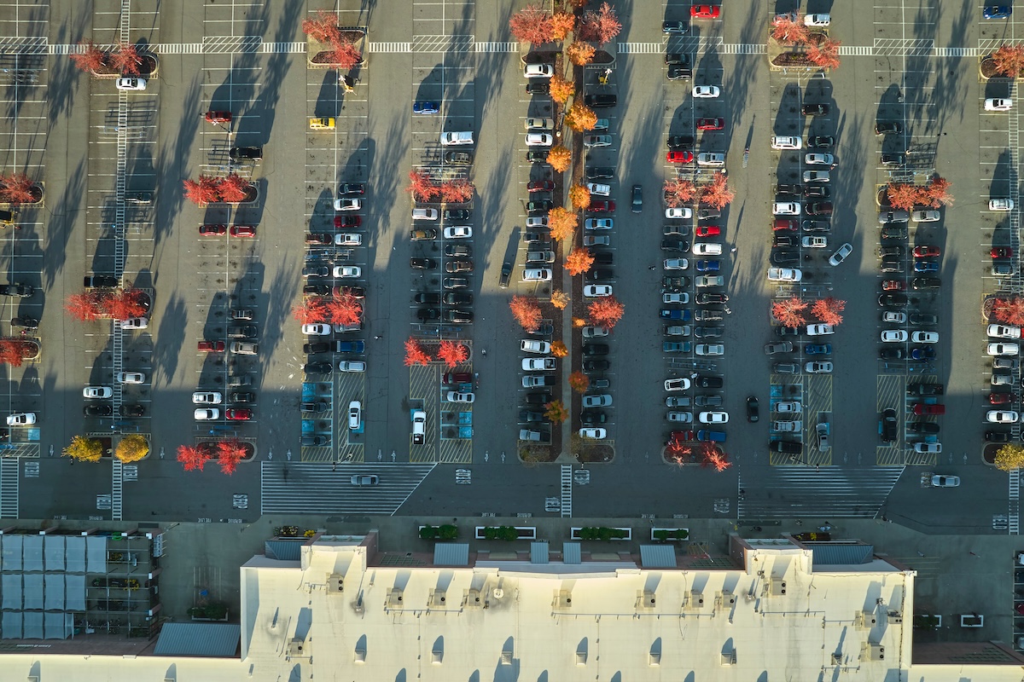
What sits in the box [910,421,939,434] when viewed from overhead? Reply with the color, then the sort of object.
black vehicle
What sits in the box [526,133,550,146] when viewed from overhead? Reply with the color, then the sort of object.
white vehicle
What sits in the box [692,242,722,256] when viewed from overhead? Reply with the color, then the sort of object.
white vehicle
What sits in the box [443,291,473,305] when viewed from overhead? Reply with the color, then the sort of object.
black vehicle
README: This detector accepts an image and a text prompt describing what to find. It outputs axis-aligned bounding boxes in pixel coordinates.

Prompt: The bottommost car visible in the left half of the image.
[350,474,380,487]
